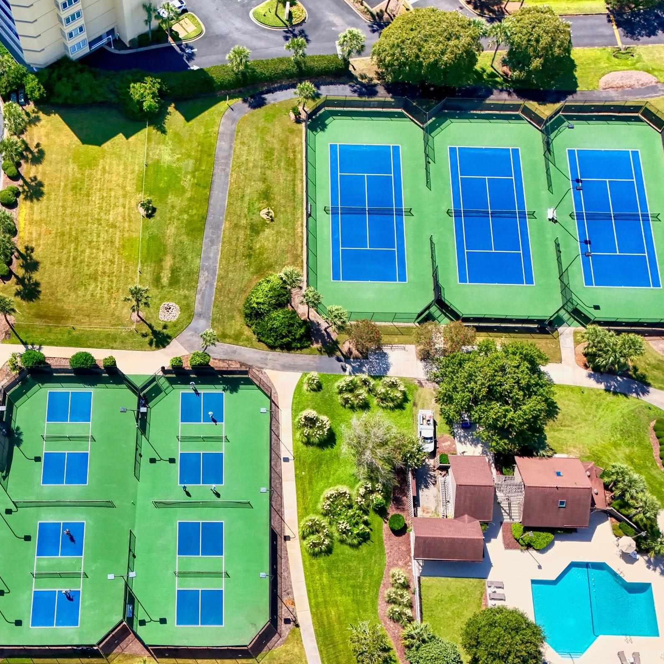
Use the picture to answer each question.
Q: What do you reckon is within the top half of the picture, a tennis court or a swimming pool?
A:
tennis court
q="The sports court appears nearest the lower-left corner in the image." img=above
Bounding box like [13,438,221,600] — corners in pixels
[0,501,133,646]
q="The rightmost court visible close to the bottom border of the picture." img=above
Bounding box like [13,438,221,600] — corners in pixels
[123,501,270,647]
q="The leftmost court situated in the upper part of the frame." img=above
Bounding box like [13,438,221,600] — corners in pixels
[307,109,438,323]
